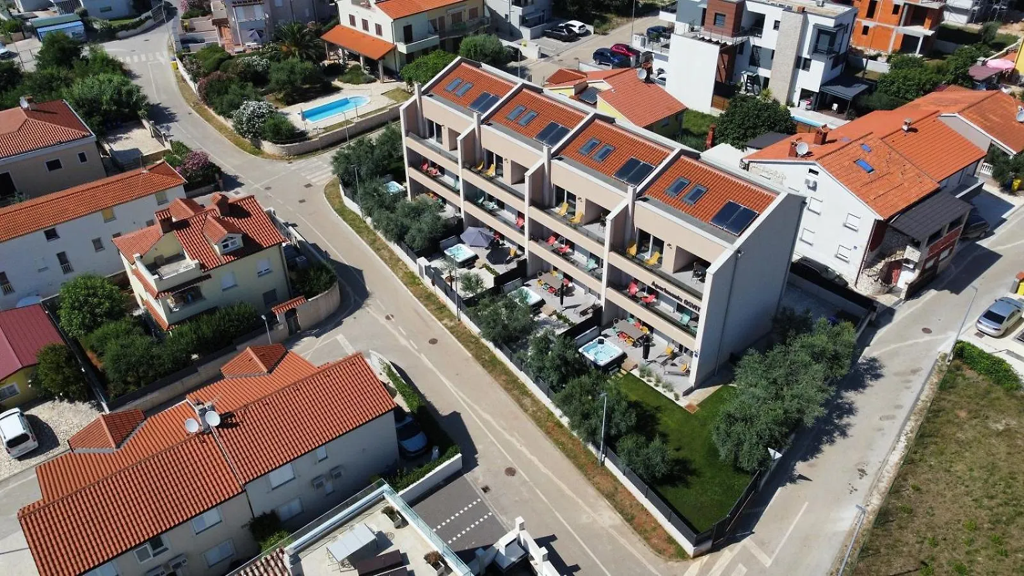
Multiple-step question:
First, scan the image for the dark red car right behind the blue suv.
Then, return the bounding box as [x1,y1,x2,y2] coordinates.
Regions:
[610,44,642,60]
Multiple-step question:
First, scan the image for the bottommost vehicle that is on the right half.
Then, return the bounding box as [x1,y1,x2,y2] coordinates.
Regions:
[979,297,1024,336]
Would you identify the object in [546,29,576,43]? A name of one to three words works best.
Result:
car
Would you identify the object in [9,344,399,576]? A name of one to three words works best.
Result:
house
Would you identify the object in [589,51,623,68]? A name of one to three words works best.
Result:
car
